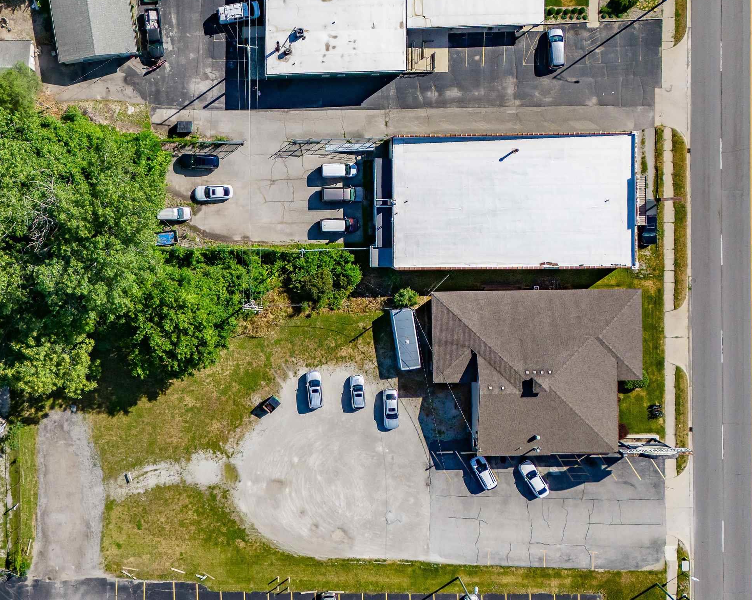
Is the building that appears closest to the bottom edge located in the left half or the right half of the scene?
right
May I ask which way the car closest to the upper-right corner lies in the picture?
from top to bottom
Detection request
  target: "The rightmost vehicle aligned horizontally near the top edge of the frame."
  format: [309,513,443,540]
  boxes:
[216,0,262,25]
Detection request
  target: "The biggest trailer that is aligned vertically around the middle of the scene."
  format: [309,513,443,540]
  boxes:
[387,308,421,373]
